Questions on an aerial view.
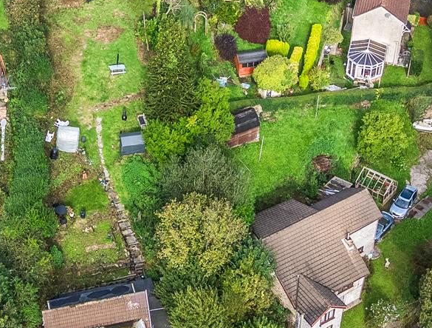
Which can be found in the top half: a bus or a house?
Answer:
house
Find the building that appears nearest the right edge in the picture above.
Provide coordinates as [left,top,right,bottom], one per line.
[346,0,412,86]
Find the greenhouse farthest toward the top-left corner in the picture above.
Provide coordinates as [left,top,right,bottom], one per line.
[57,121,84,152]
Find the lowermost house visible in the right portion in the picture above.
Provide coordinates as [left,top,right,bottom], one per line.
[242,181,384,328]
